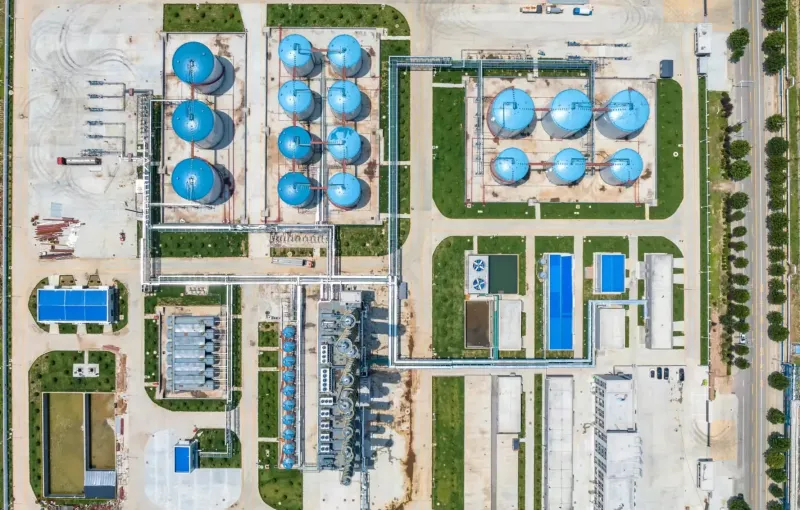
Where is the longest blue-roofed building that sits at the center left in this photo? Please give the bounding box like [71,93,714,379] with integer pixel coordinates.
[38,284,120,322]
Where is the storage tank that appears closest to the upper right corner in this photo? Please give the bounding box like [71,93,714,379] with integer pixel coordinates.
[595,88,650,138]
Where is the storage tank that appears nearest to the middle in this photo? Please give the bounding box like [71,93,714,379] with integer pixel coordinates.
[327,172,363,209]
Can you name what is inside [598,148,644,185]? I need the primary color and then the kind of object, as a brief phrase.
blue storage tank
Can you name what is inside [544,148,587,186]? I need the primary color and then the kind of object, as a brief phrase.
blue storage tank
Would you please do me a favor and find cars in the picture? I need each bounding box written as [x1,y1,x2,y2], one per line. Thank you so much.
[678,368,685,381]
[663,368,670,380]
[656,367,663,379]
[650,369,655,379]
[739,333,745,344]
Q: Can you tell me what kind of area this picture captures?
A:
industrial area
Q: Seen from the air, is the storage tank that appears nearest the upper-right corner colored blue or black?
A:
blue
